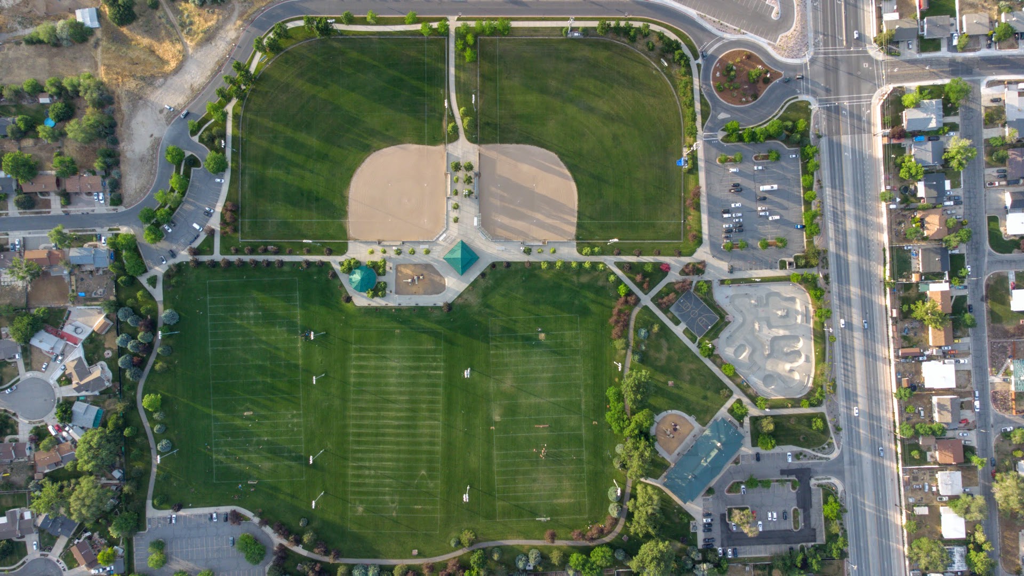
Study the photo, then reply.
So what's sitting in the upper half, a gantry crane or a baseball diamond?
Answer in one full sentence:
The one visible in the upper half is a baseball diamond.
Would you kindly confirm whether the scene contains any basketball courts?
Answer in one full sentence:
Yes, looking at the shot, I can spot a basketball court.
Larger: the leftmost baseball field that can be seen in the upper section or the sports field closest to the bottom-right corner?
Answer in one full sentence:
It is the baseball field that is larger, not the sports field.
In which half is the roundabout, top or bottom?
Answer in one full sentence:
The roundabout sits in the top half of the picture.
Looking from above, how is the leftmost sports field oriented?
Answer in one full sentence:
The leftmost sports field has been laid out from top to bottom relative to the frame.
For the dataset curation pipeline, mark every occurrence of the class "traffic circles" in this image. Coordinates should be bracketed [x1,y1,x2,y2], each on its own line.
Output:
[711,48,784,107]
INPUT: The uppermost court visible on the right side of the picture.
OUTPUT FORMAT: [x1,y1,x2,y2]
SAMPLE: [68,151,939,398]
[670,290,719,338]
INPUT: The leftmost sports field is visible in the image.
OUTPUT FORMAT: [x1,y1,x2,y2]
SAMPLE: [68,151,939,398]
[207,278,304,482]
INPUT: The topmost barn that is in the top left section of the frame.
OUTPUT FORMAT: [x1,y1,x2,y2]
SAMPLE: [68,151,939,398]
[77,6,102,29]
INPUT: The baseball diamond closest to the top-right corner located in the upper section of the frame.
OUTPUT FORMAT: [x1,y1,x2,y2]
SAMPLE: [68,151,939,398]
[478,38,682,241]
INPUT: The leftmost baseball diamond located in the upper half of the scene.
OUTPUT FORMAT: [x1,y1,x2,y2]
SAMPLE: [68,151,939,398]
[241,37,446,241]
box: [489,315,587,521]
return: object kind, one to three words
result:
sports field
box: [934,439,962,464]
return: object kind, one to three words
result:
house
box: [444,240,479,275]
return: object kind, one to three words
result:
building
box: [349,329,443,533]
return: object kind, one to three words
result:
sports field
